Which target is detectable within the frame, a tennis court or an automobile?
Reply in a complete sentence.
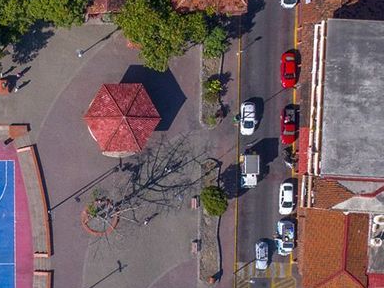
It is an automobile that can be seen here.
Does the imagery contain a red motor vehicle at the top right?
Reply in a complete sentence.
Yes, a red motor vehicle appears at the top right.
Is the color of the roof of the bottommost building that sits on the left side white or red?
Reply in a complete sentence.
The roof of the bottommost building that sits on the left side is red.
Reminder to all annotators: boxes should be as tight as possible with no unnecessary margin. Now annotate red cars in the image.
[278,105,299,145]
[278,53,299,89]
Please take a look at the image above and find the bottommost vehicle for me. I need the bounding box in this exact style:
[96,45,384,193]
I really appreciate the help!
[253,241,270,270]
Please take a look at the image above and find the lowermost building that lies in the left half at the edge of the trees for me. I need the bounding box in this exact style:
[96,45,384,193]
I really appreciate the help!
[83,84,160,162]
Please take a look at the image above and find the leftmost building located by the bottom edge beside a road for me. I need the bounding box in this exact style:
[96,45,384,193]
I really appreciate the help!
[298,208,369,288]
